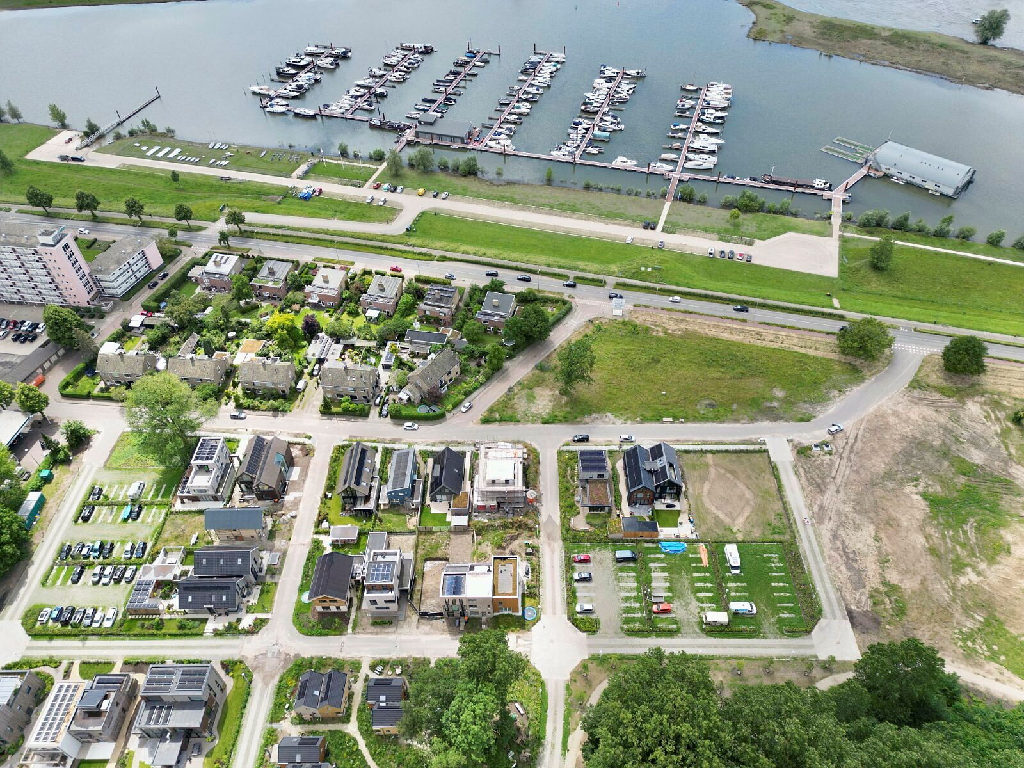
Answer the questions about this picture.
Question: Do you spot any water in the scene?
Yes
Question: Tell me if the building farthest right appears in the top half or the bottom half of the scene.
top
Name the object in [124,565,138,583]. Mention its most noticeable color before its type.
white car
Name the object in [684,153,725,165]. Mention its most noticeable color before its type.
white boat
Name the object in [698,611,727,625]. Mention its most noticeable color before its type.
white camper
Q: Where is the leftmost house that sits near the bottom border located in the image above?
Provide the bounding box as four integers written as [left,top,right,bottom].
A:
[0,651,51,748]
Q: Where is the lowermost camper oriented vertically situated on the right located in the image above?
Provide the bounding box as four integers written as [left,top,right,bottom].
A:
[726,539,740,576]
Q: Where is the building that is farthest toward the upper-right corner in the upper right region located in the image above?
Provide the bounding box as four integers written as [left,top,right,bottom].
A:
[867,136,972,202]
